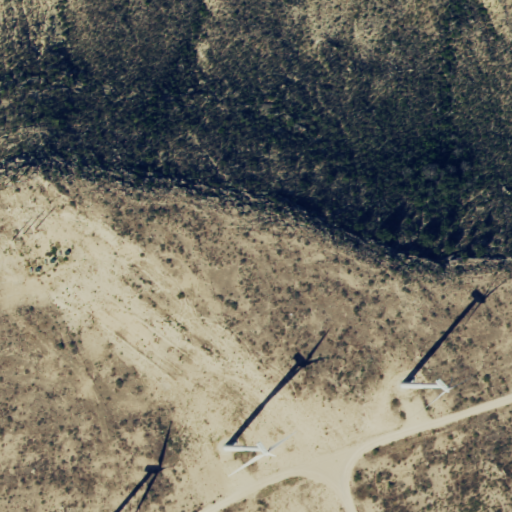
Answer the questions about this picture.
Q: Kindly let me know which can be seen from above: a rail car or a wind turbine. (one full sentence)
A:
Looking from above, you can make out a wind turbine.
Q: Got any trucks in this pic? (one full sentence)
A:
No, there appears to be no truck in this shot.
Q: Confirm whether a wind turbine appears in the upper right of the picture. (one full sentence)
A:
No, no wind turbine is visible in the upper right of the picture.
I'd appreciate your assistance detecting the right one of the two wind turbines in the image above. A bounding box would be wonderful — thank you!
[398,358,467,408]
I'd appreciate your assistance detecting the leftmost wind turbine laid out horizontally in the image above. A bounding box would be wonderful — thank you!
[220,434,292,470]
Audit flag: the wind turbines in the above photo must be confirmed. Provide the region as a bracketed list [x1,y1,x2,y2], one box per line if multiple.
[220,434,292,470]
[398,358,467,408]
